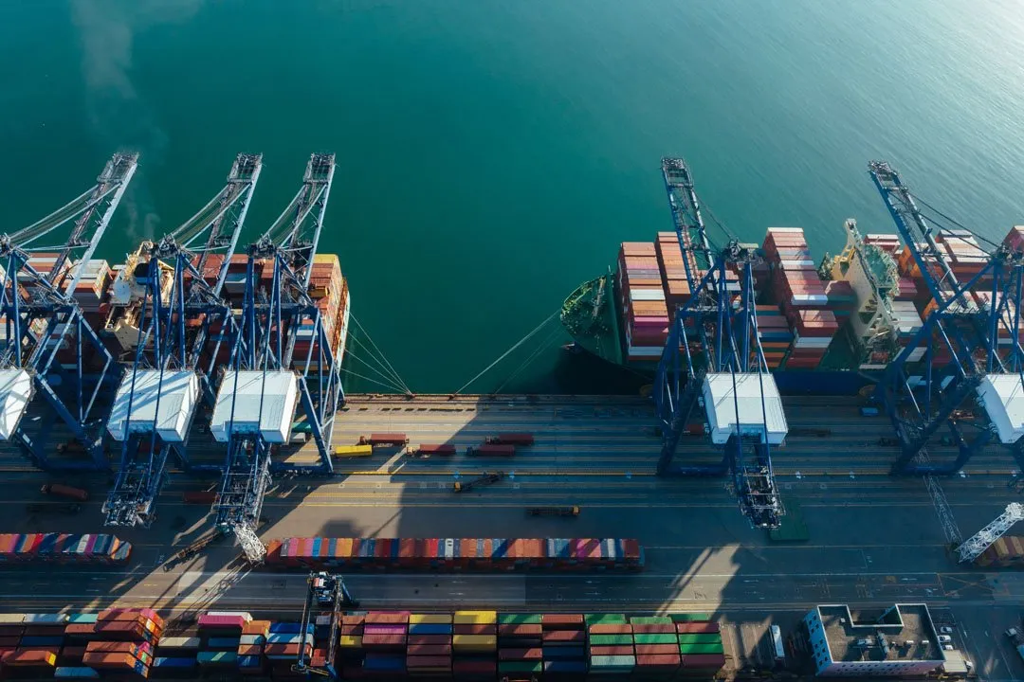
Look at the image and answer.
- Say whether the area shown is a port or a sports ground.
port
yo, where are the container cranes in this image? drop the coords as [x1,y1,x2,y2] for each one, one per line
[202,153,354,530]
[0,153,135,473]
[859,153,1024,484]
[286,571,362,682]
[98,153,270,530]
[645,153,788,530]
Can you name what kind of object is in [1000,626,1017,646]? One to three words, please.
vehicle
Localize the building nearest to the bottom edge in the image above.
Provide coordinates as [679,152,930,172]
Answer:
[804,604,947,674]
